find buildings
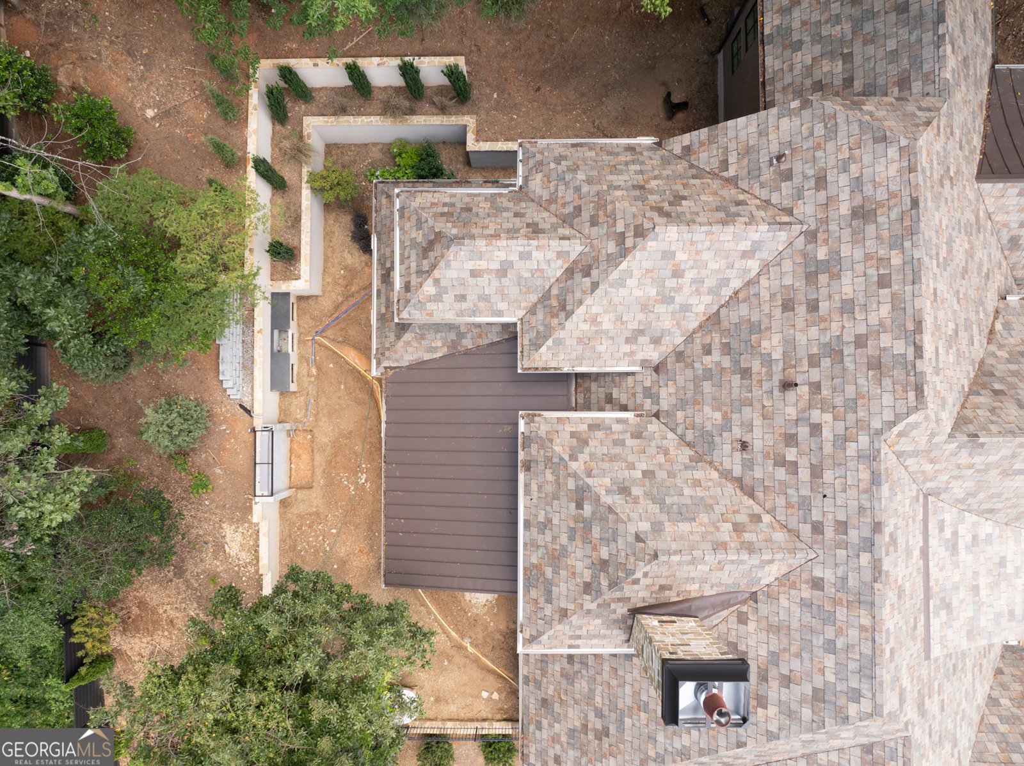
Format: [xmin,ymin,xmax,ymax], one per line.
[371,0,1024,766]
